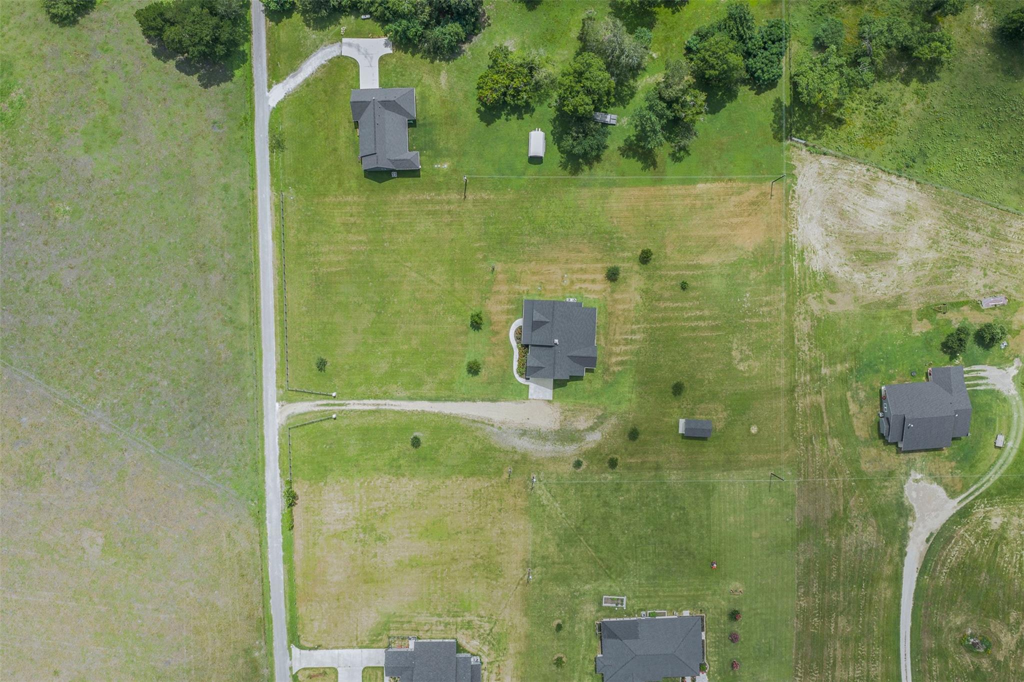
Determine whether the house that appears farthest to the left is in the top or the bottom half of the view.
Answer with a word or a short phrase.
top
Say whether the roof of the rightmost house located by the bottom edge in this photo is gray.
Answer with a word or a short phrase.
Yes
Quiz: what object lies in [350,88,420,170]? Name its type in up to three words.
house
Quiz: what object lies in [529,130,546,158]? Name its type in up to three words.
shed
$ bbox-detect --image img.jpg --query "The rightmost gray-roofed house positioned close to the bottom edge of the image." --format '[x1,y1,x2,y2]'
[596,614,701,682]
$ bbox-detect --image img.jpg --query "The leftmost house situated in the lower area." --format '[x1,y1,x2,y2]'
[384,639,481,682]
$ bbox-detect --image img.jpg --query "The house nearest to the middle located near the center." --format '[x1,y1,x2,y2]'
[521,299,598,379]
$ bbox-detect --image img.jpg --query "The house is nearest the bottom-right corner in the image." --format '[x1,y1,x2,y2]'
[879,366,972,451]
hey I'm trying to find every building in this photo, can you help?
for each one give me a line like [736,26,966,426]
[678,418,712,437]
[596,614,701,682]
[879,366,972,451]
[529,130,546,158]
[521,299,598,379]
[350,88,420,170]
[384,639,481,682]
